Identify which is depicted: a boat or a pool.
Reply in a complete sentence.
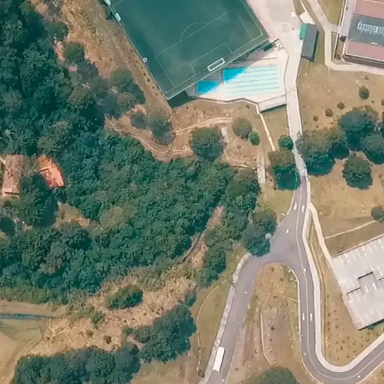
The image shows a pool.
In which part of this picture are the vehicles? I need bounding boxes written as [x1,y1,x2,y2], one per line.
[211,345,224,373]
